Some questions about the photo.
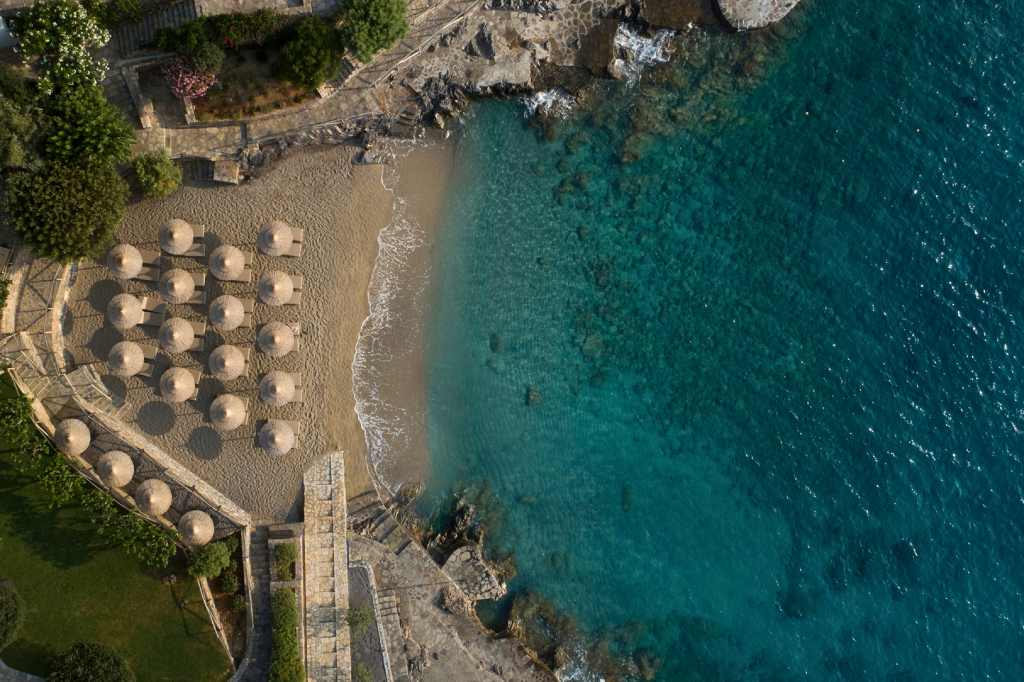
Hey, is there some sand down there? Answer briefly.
Yes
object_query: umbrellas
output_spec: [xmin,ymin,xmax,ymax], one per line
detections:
[260,320,297,358]
[158,316,194,353]
[210,243,247,280]
[161,270,197,305]
[137,478,175,516]
[107,292,145,329]
[210,343,245,378]
[97,448,134,486]
[160,367,196,403]
[56,419,92,456]
[109,242,147,279]
[177,510,214,547]
[260,418,296,455]
[258,370,294,407]
[210,295,245,331]
[260,271,297,308]
[161,218,198,255]
[211,392,246,428]
[259,219,295,256]
[108,341,145,379]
